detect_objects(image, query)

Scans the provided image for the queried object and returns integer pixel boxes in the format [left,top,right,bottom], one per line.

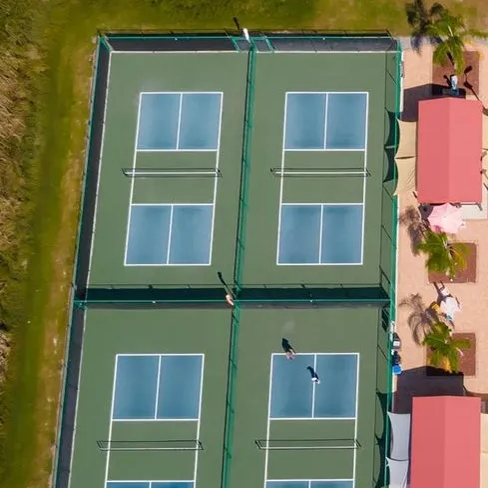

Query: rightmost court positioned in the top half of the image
[240,50,400,303]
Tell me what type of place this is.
sports ground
